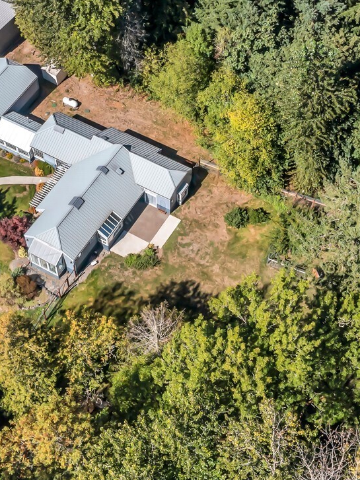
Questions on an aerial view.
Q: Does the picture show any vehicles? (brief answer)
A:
No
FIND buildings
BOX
[0,57,38,115]
[0,0,28,55]
[24,112,193,277]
